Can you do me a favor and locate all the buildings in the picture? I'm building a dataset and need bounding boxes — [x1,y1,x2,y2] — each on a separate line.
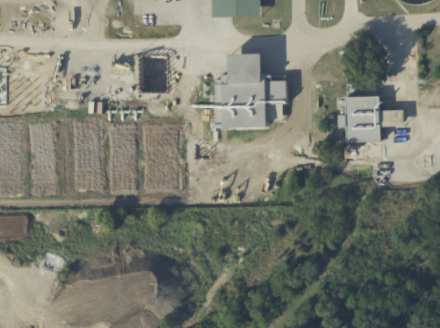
[44,253,66,272]
[338,97,404,142]
[212,0,260,18]
[214,54,287,130]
